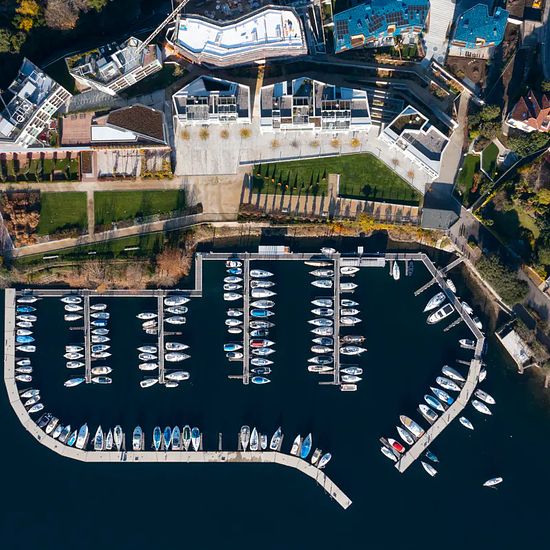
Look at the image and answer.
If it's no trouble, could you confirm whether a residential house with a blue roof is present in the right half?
Yes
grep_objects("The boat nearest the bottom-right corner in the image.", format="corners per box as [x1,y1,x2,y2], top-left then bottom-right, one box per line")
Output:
[482,476,503,490]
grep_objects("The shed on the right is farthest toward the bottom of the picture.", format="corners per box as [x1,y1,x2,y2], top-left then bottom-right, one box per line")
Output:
[509,306,534,333]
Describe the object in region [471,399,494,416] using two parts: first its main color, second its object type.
white boat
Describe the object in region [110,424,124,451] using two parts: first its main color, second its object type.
white boat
